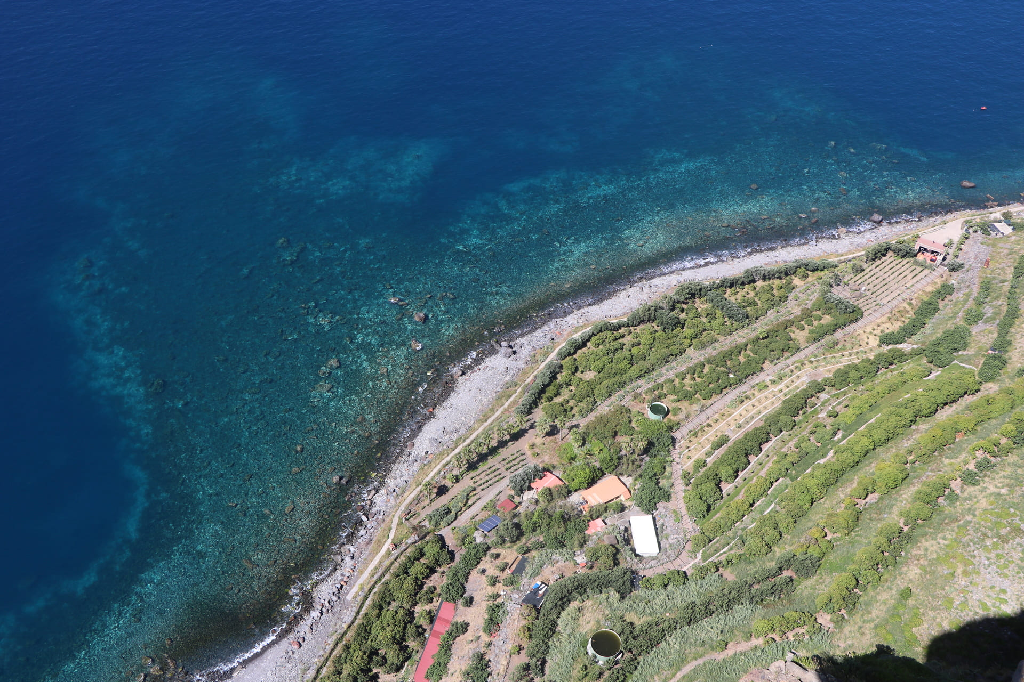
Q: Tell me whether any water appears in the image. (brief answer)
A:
Yes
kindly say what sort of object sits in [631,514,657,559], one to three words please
building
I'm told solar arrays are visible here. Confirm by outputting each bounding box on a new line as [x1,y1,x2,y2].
[478,513,501,533]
